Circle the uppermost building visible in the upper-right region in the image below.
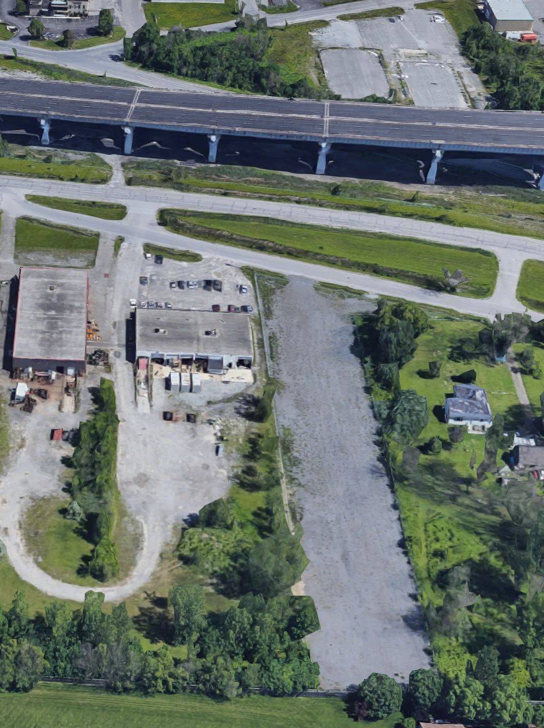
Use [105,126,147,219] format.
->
[480,0,534,35]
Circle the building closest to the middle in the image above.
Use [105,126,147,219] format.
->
[134,306,254,374]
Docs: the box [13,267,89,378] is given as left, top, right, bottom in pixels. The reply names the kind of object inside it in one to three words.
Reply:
building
